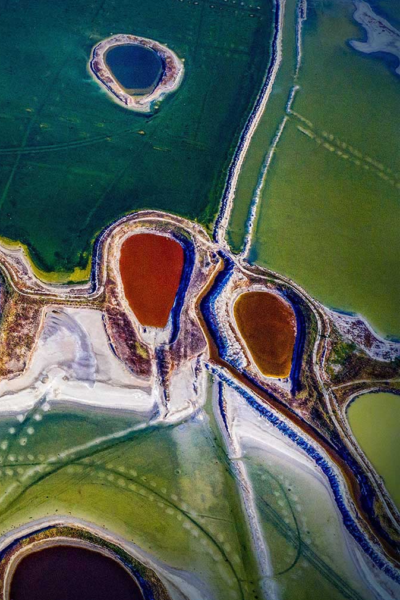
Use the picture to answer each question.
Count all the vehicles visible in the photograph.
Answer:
0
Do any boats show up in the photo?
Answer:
No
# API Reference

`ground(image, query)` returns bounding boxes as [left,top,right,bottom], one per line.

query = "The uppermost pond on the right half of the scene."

[231,283,311,396]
